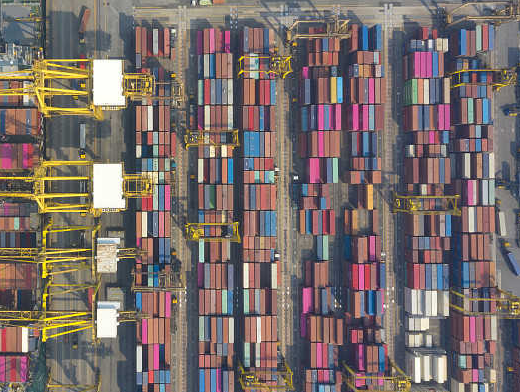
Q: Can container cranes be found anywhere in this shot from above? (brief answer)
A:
Yes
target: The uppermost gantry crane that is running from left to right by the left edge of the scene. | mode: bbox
[0,59,153,127]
